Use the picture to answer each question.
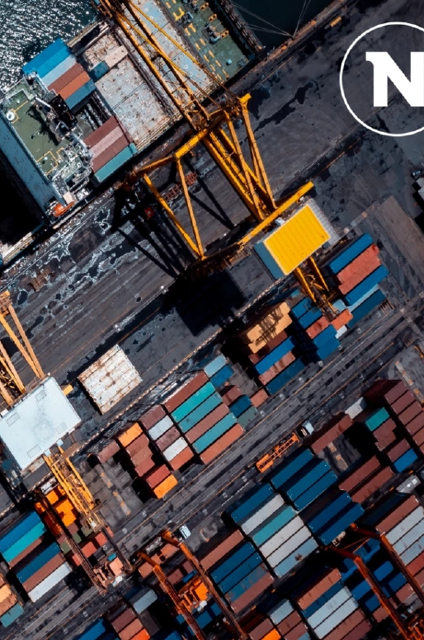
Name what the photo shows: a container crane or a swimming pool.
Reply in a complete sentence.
There is a container crane in the scene.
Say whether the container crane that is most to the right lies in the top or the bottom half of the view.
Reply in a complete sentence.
The container crane that is most to the right is in the bottom half of the image.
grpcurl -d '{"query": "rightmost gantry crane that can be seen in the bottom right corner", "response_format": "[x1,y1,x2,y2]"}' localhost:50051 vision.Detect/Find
[325,526,424,640]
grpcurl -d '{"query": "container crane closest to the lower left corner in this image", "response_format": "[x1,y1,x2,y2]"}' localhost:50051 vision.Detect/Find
[29,467,134,595]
